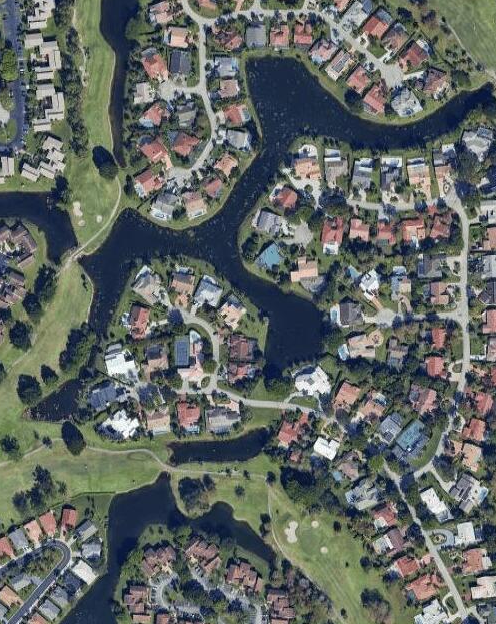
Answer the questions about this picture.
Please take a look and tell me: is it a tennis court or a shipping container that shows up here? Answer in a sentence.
I can see a tennis court in this picture.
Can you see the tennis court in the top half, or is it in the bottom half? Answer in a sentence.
It is in the bottom half that the tennis court appears.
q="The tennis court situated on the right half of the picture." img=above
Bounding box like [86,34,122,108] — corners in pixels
[397,419,424,450]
